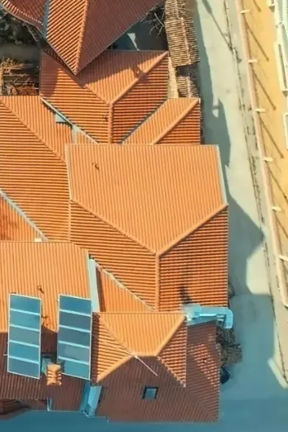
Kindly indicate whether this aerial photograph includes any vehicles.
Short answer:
No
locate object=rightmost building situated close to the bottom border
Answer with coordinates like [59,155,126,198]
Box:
[83,310,221,424]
